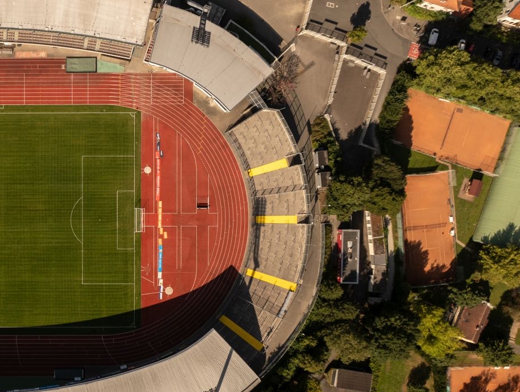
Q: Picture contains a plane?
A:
No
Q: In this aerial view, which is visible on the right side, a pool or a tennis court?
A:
tennis court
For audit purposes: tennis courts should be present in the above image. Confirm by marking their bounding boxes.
[398,89,510,169]
[403,171,456,286]
[448,366,520,392]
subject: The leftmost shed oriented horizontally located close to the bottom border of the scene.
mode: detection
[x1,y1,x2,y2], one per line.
[328,366,372,392]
